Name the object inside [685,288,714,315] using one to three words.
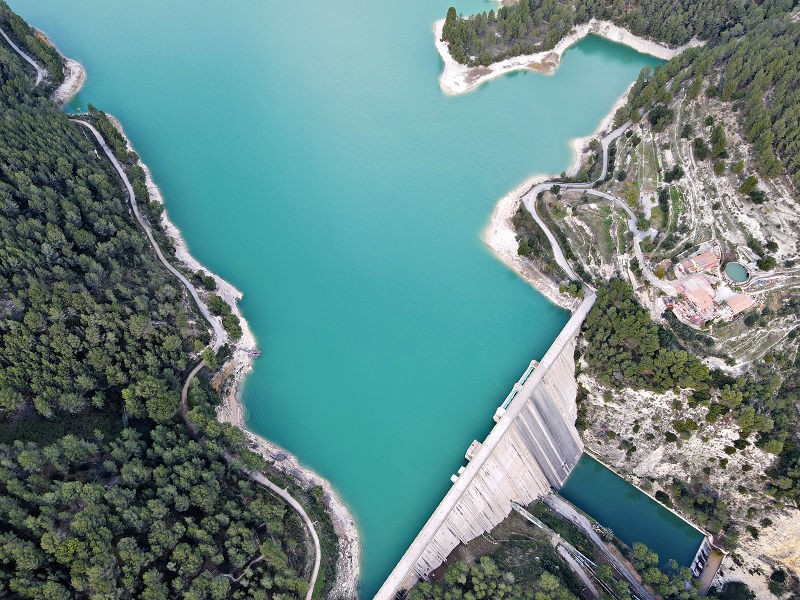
house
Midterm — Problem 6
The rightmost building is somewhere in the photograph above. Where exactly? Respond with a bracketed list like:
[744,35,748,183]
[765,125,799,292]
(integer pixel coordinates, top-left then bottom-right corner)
[726,294,754,316]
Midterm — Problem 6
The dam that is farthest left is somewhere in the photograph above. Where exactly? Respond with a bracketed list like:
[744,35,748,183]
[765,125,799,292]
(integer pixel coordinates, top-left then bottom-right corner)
[372,292,595,600]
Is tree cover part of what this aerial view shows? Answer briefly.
Yes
